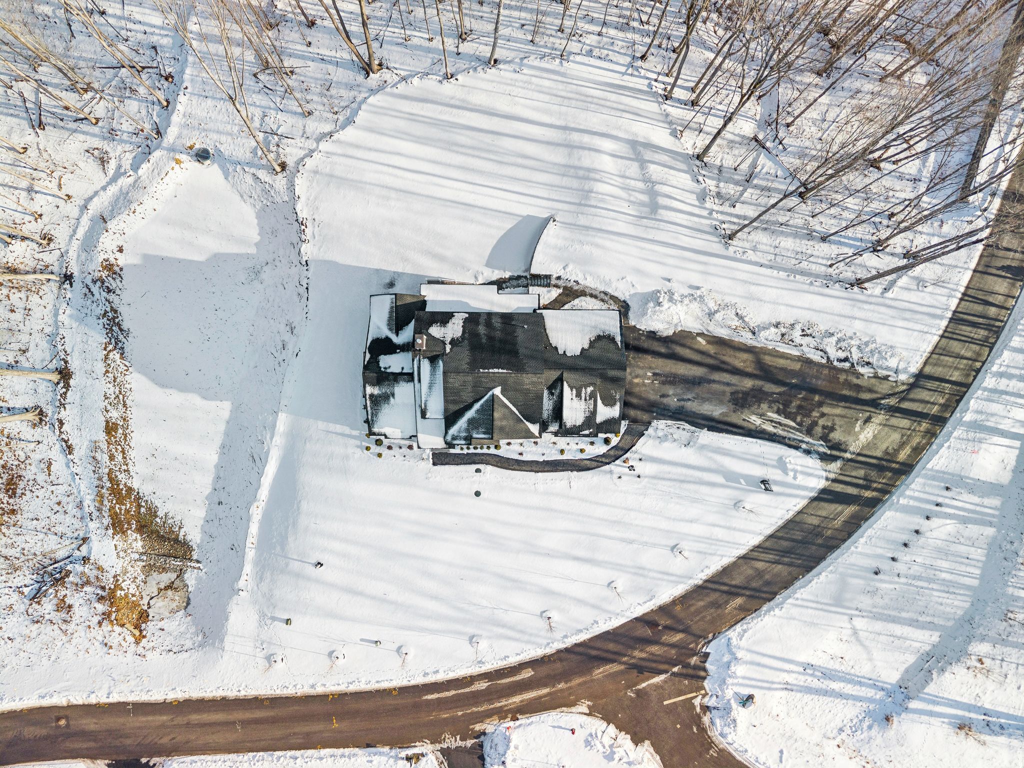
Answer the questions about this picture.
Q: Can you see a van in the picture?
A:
No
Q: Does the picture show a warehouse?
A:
No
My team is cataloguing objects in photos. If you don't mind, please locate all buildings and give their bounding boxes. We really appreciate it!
[362,277,627,452]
